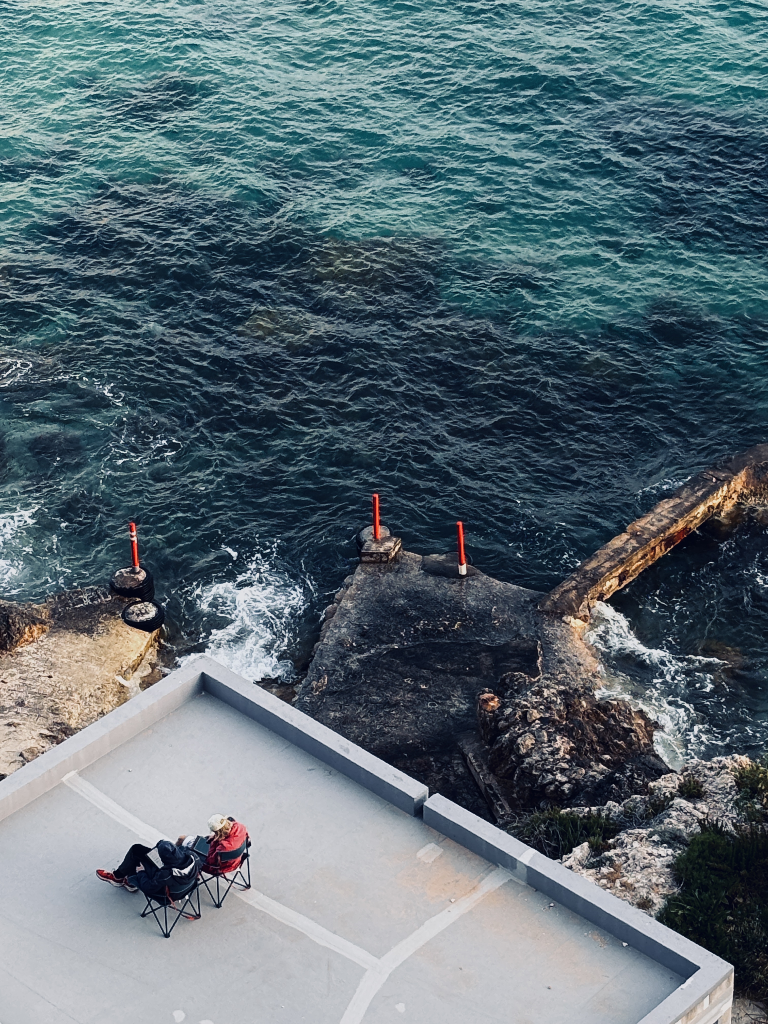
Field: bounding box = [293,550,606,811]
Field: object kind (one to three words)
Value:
pier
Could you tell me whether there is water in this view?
Yes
